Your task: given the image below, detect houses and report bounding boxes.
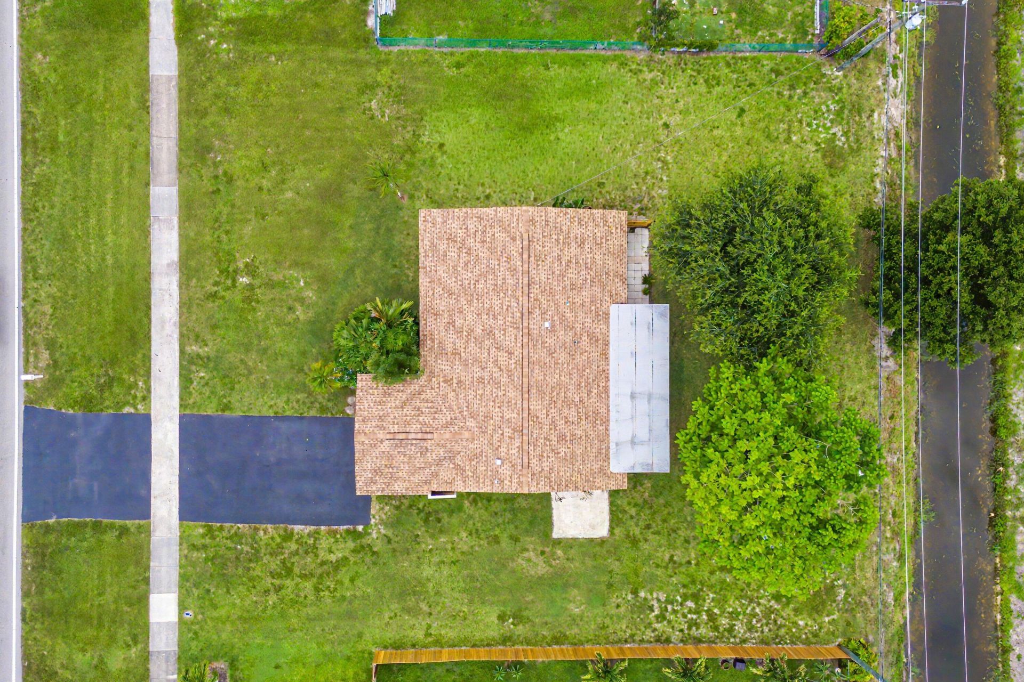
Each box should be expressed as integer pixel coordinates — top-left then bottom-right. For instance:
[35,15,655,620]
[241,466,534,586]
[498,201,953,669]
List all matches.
[354,206,628,496]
